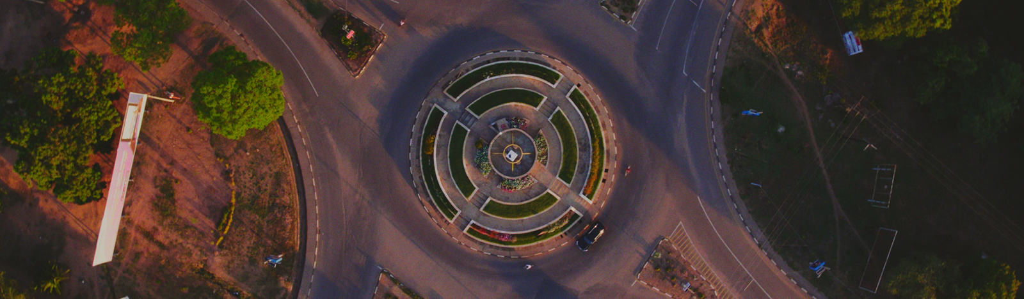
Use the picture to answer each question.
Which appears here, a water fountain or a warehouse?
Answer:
water fountain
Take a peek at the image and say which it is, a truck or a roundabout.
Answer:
roundabout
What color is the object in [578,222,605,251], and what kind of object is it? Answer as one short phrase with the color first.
black car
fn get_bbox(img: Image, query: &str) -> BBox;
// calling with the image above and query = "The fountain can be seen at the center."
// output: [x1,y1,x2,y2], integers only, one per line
[489,129,537,178]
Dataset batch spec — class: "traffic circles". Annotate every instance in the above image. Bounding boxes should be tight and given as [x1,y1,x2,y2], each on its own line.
[409,50,618,258]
